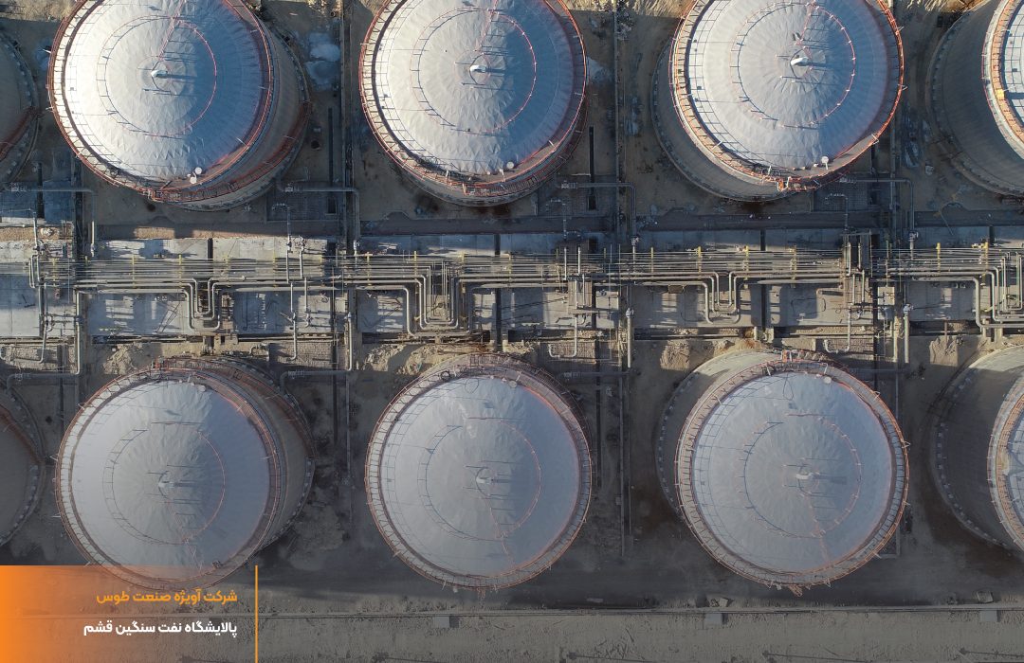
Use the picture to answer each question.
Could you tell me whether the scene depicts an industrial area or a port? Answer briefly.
industrial area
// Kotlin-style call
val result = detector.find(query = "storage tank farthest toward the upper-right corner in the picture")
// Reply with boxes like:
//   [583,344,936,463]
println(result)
[927,0,1024,199]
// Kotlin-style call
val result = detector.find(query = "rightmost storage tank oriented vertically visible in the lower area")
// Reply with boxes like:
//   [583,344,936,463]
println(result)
[930,345,1024,555]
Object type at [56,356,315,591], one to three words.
storage tank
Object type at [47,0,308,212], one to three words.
storage tank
